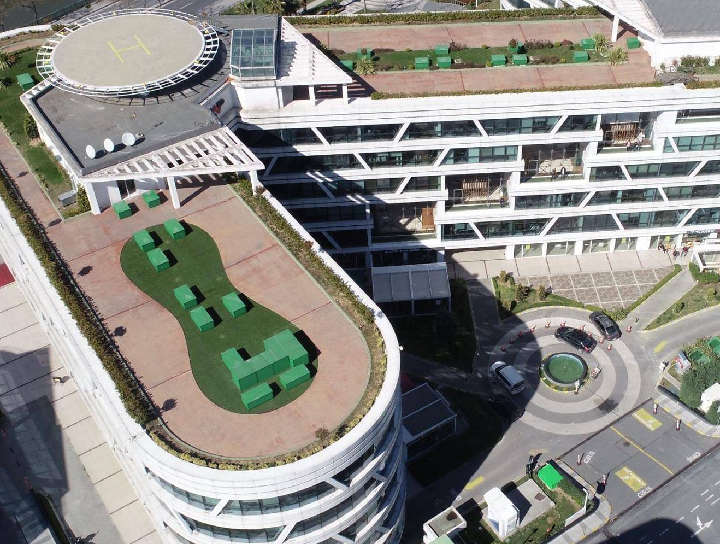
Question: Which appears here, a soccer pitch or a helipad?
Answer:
helipad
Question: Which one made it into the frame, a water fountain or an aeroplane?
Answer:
water fountain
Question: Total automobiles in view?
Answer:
4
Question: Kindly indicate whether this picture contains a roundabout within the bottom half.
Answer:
Yes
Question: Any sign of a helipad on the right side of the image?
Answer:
No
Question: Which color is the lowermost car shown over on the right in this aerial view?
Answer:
black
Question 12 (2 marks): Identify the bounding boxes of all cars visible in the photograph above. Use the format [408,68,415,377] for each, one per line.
[490,357,527,392]
[481,388,528,422]
[587,308,625,339]
[553,324,598,352]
